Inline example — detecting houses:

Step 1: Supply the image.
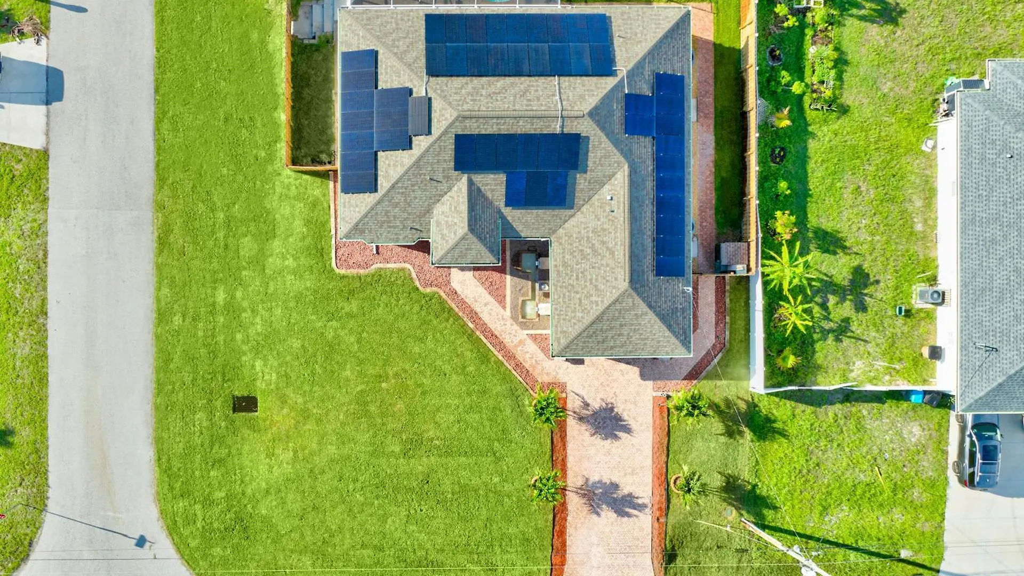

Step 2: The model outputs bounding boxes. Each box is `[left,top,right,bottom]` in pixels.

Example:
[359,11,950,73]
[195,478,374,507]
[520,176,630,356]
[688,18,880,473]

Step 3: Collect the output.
[938,60,1024,412]
[337,6,695,357]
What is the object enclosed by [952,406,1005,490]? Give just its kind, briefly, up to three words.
car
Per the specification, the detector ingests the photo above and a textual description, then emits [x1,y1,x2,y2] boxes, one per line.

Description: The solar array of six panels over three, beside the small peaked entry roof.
[455,133,580,207]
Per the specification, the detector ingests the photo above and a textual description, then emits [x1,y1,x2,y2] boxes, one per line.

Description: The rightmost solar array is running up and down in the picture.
[624,73,684,277]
